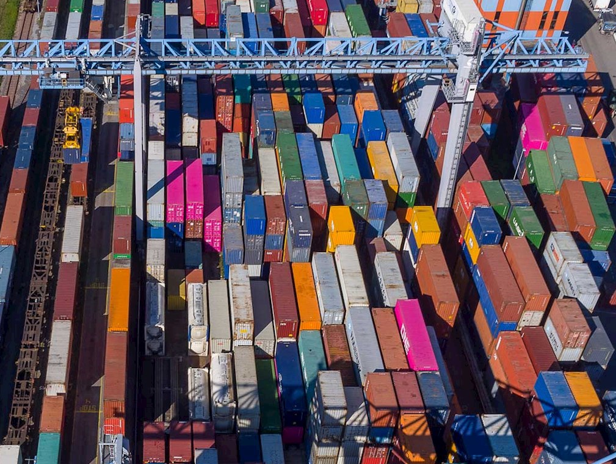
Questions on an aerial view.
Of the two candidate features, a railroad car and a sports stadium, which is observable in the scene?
railroad car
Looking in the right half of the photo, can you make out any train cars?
No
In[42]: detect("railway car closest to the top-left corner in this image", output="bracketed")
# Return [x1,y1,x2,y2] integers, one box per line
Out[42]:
[23,0,41,31]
